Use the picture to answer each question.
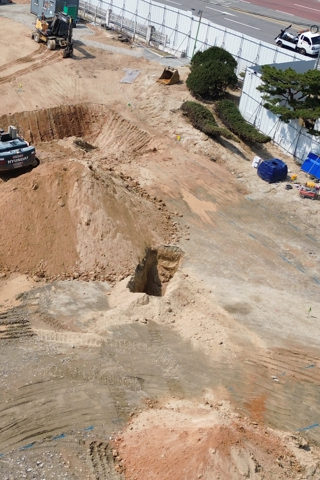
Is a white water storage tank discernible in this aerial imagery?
No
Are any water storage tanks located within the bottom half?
No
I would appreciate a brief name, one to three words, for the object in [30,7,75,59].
work vehicle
